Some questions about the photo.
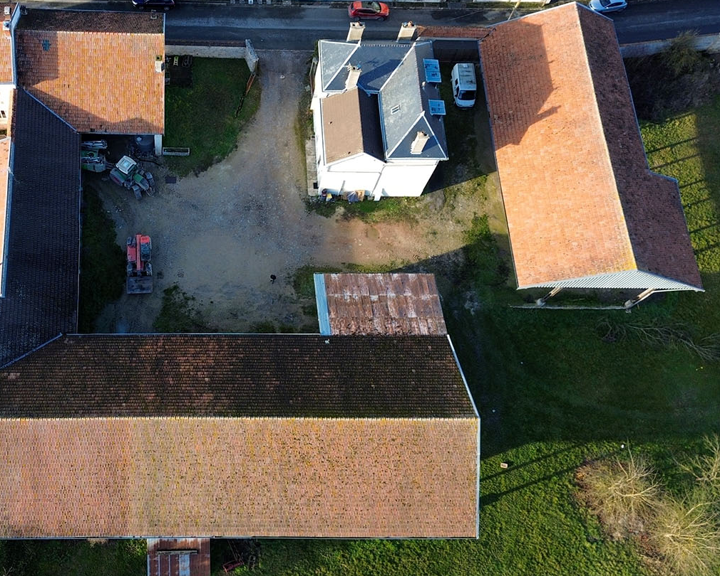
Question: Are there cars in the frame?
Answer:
Yes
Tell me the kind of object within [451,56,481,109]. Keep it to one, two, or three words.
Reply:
van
